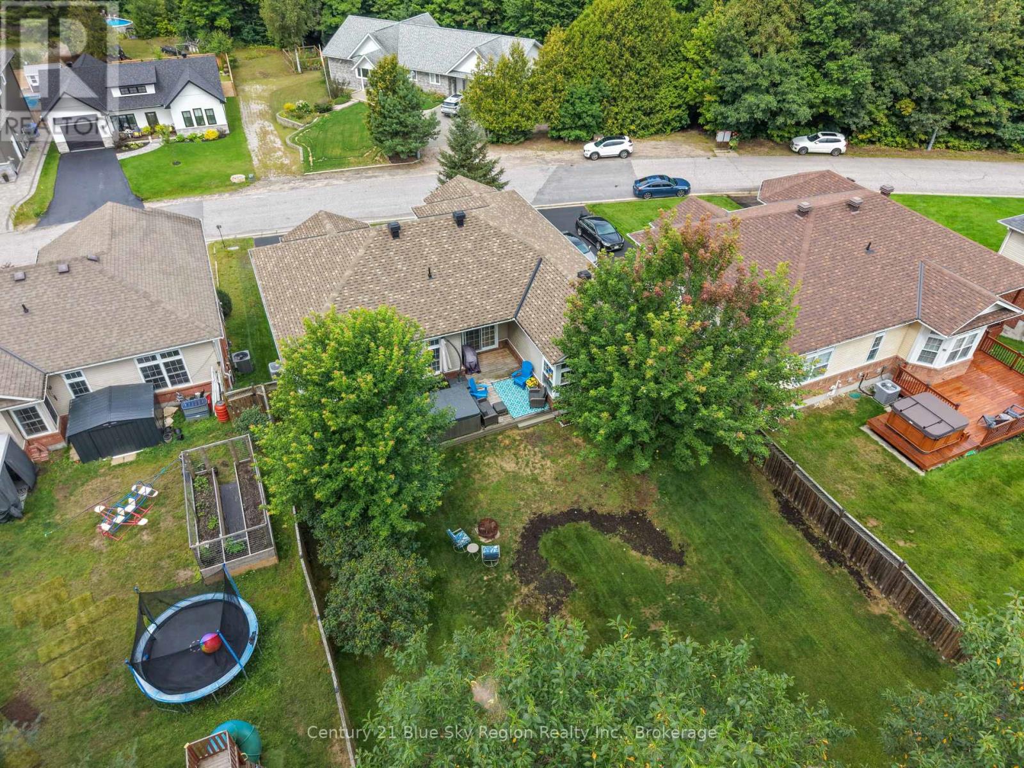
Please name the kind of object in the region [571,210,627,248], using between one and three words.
car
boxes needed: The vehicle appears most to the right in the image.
[791,132,849,156]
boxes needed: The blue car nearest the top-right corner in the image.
[630,172,692,196]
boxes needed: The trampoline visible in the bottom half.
[134,575,263,714]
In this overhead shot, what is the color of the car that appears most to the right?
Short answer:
white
